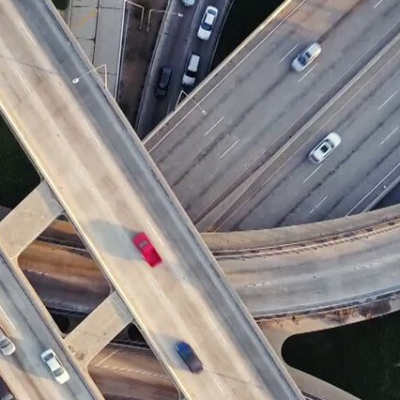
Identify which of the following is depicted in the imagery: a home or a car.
car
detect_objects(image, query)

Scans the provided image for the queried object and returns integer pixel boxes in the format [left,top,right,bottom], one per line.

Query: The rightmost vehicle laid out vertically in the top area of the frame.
[199,5,216,37]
